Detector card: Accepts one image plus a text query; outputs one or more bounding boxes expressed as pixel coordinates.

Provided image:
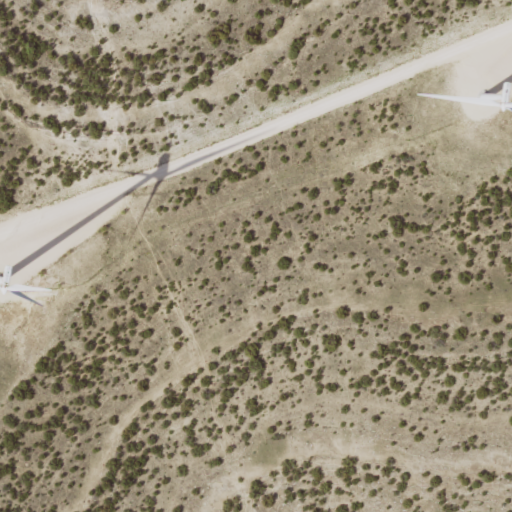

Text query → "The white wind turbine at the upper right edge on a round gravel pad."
[415,82,512,111]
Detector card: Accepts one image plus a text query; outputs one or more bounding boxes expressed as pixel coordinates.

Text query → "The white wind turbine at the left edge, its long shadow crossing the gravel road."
[0,268,53,310]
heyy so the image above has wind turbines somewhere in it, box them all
[0,268,53,310]
[415,82,512,111]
